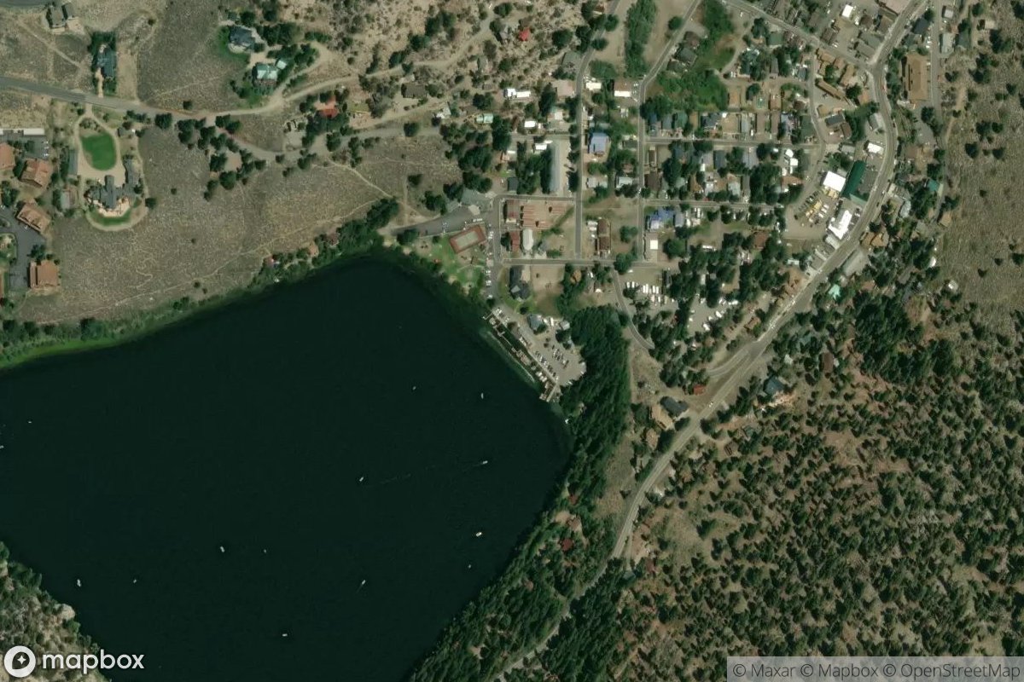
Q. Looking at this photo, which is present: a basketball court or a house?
house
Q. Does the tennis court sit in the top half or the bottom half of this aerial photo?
top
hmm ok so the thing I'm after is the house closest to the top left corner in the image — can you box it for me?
[47,3,76,27]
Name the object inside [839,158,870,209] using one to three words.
building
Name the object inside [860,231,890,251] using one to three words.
building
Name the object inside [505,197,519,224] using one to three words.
house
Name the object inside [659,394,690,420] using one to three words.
house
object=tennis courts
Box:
[450,224,486,253]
